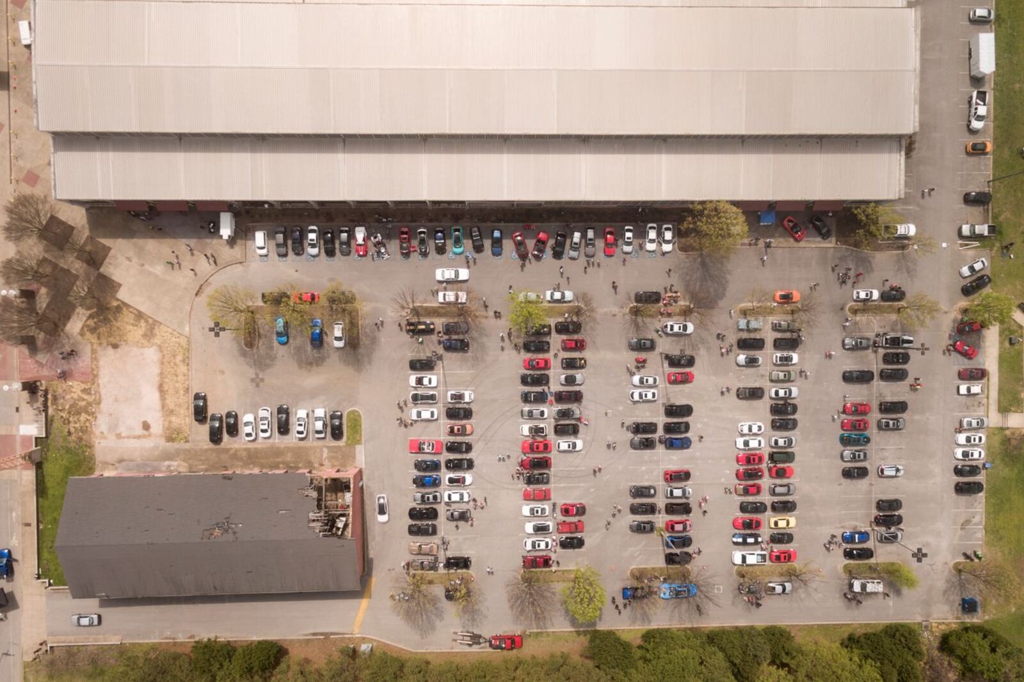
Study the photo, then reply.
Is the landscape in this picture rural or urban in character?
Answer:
urban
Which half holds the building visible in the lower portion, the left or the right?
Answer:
left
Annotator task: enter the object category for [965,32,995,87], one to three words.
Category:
trailer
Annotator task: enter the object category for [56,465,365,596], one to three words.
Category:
building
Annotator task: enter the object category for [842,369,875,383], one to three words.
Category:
car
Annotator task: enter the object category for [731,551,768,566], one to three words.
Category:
vehicle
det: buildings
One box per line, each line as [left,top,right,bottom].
[56,465,365,596]
[34,0,919,213]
